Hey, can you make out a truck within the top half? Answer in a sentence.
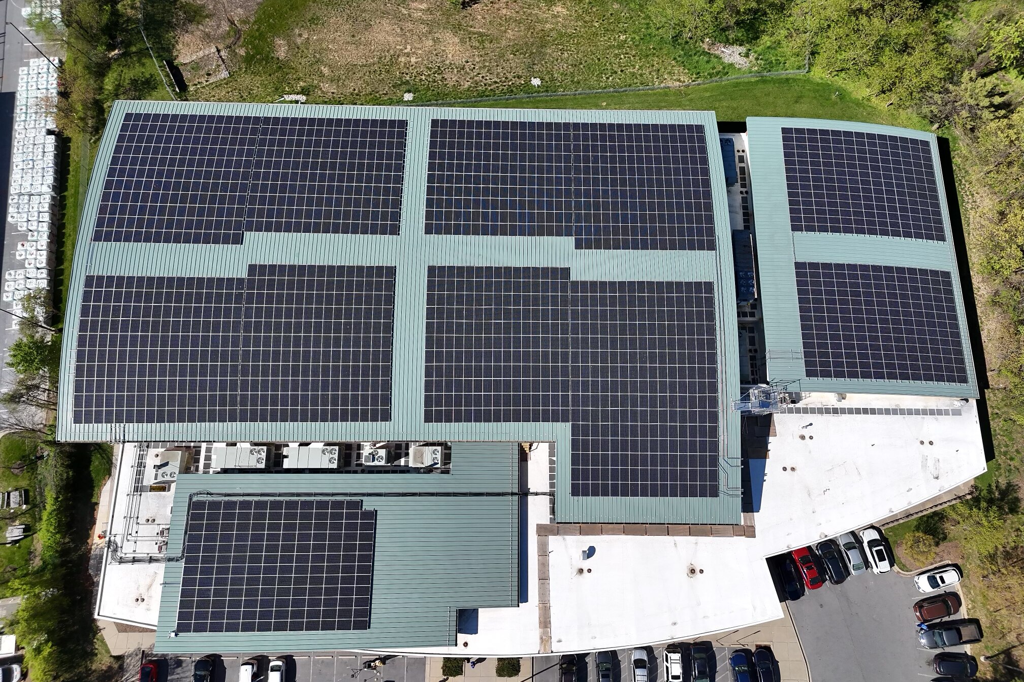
No, the scene shows no truck within the top half.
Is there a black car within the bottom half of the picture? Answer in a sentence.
Yes, a black car appears within the bottom half of the picture.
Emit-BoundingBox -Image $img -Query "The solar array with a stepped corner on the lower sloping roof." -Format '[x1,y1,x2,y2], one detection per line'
[176,499,374,633]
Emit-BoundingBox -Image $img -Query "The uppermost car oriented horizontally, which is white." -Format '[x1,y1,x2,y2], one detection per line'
[913,567,965,591]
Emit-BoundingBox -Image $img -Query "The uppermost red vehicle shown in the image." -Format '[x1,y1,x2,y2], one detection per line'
[793,549,820,590]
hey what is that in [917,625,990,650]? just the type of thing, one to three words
truck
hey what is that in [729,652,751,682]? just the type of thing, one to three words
car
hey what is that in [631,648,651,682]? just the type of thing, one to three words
car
